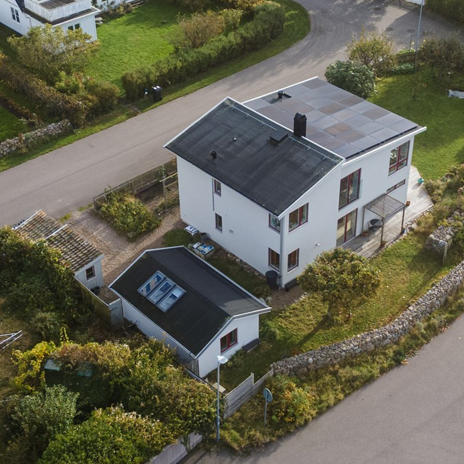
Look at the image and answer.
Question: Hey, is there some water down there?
No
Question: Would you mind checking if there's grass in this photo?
Yes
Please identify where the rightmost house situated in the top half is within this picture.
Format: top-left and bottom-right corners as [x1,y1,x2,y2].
[165,78,431,289]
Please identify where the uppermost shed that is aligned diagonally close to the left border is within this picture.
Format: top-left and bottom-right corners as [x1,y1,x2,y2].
[14,208,106,290]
